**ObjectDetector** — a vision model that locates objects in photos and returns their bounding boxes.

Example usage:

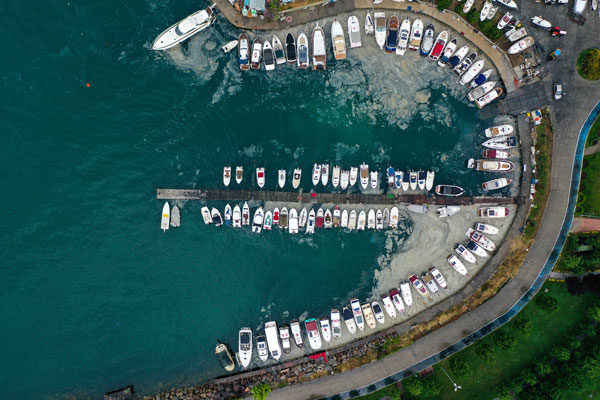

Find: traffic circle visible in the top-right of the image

[575,46,600,81]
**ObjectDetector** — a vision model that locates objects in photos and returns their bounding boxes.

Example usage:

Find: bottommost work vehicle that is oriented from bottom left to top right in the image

[544,49,564,64]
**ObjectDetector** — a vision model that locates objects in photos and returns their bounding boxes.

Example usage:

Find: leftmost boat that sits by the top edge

[151,2,222,48]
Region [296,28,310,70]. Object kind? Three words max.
boat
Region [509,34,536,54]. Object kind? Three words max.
boat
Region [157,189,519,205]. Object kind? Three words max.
pier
